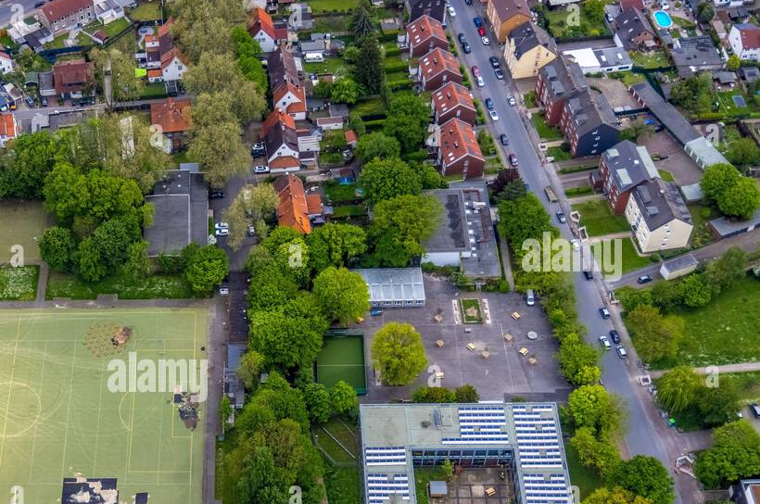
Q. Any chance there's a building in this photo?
Yes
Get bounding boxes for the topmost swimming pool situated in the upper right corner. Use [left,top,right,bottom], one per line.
[652,7,675,29]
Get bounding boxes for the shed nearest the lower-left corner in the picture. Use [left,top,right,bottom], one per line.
[225,373,245,405]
